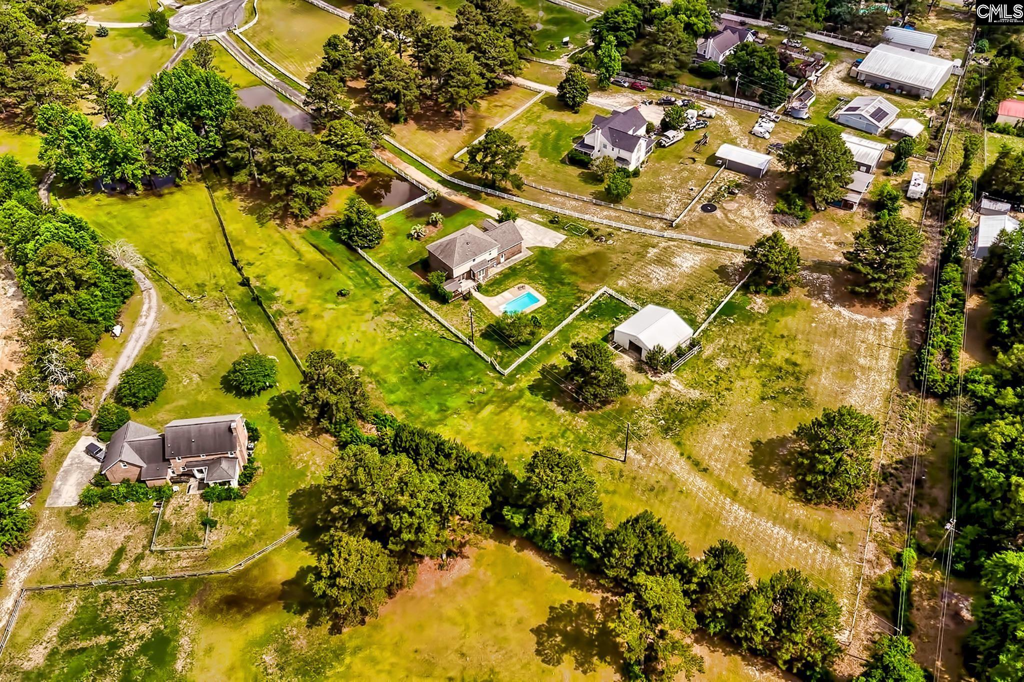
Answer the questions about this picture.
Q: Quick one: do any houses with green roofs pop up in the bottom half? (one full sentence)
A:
No, no house with a green roof appears in the bottom half.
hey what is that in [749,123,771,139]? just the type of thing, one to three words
vehicle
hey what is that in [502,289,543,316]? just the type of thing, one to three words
swimming pool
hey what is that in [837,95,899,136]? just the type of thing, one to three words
barn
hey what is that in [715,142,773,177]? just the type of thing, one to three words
shed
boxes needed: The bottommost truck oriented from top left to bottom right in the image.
[81,439,106,464]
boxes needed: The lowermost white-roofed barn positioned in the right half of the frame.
[614,304,700,371]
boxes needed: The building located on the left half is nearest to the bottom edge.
[101,414,249,490]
